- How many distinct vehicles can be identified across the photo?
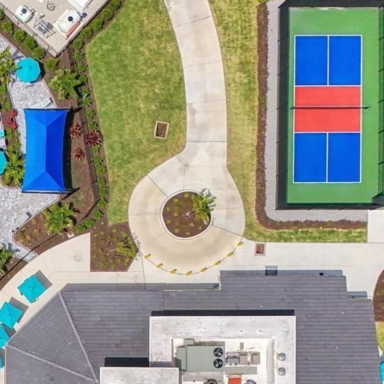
0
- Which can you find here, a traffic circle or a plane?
traffic circle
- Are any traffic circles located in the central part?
Yes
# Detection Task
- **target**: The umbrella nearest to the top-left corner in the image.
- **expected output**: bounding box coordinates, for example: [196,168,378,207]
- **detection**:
[15,59,40,84]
